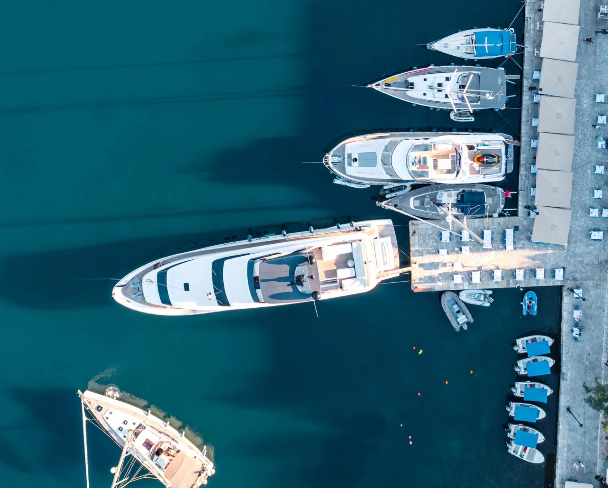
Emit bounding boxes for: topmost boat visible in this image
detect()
[418,4,527,69]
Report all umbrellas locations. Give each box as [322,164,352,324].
[534,169,573,207]
[531,206,572,245]
[540,22,581,61]
[542,0,580,24]
[536,133,575,171]
[538,95,576,134]
[538,58,578,98]
[564,479,593,488]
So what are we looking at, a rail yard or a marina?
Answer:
marina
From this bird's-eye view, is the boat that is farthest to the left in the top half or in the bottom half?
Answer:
bottom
